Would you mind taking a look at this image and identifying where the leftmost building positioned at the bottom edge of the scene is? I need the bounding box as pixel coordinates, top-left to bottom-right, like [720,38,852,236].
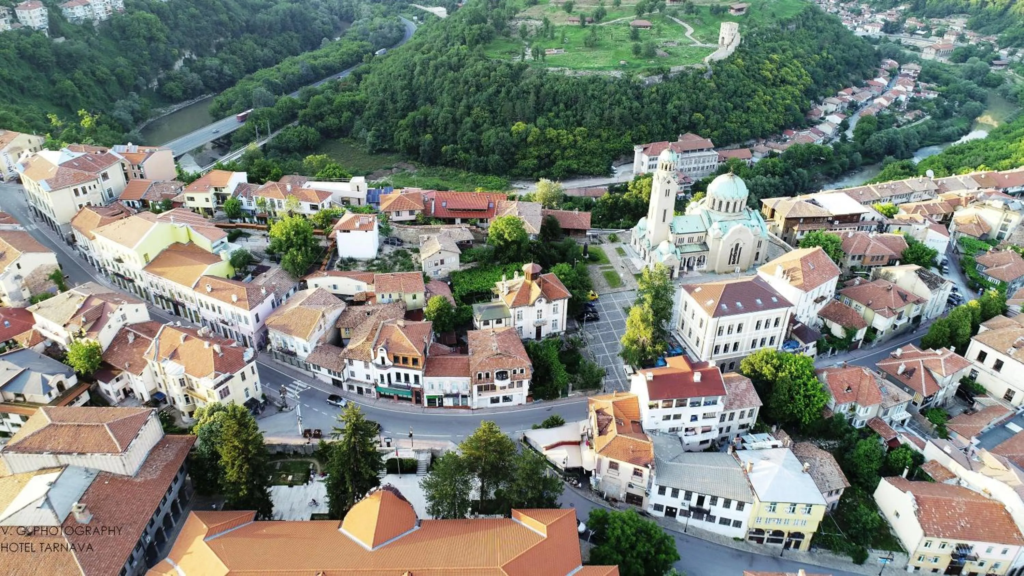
[0,406,208,576]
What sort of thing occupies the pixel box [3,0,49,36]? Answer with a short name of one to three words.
building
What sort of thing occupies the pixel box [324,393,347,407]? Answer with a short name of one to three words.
car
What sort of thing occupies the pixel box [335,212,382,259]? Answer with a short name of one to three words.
house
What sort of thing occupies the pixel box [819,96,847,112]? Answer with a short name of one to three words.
house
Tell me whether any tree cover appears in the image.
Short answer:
Yes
